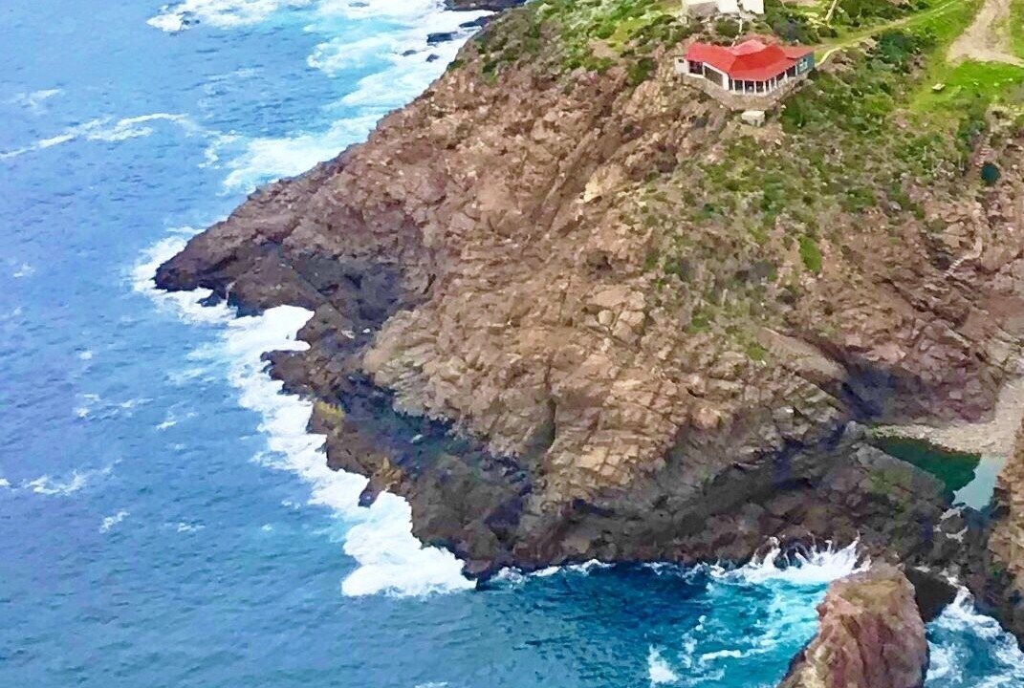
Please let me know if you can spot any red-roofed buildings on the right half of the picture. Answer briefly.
Yes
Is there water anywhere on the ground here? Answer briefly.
Yes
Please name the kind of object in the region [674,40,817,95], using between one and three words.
building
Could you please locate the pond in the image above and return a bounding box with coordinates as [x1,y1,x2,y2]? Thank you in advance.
[882,433,1010,511]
